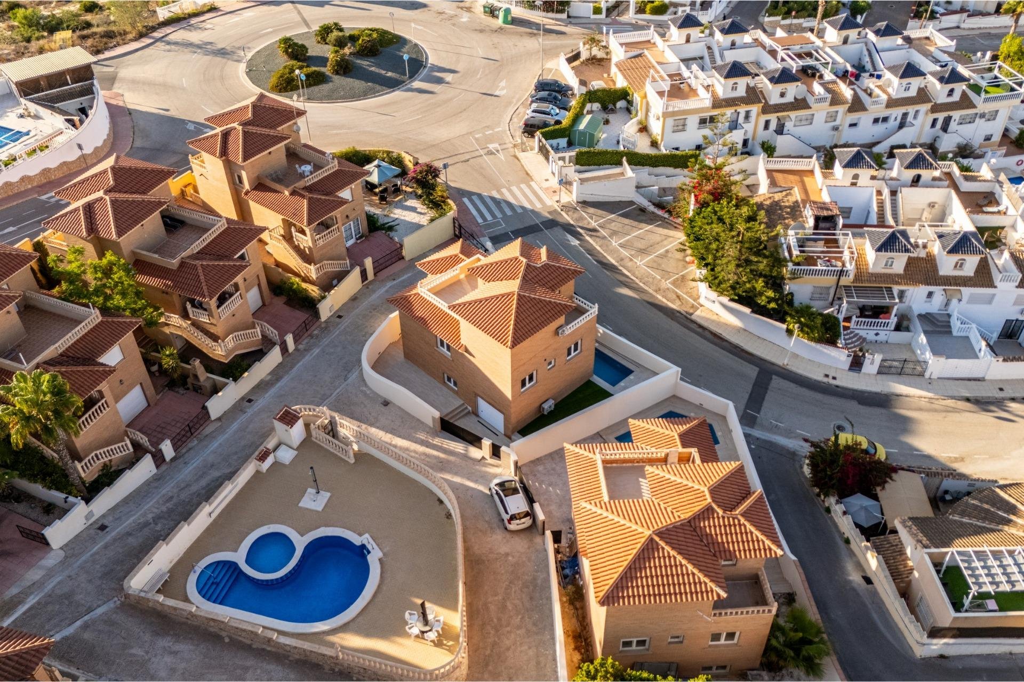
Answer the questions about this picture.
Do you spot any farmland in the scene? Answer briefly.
No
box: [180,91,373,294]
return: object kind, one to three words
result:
house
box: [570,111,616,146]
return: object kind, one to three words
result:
shed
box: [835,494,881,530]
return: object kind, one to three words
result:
umbrella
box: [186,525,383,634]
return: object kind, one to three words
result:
swimming pool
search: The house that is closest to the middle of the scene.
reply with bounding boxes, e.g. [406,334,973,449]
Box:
[384,235,598,435]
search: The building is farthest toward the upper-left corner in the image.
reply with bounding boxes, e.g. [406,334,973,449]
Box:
[0,46,113,194]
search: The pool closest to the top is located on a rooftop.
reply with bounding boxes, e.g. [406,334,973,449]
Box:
[0,125,28,154]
